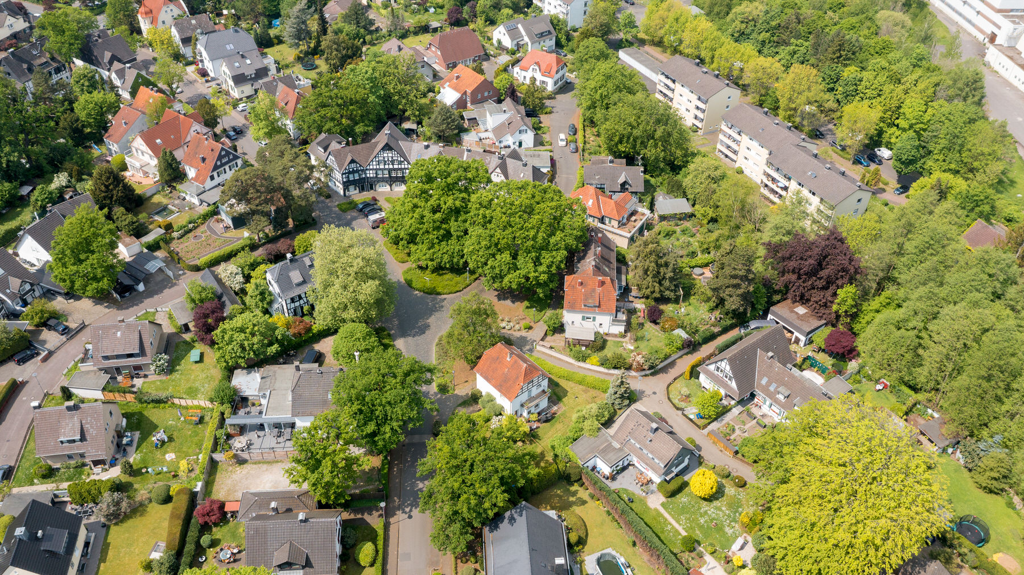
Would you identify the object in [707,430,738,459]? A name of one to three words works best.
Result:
shed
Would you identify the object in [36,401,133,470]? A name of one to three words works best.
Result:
house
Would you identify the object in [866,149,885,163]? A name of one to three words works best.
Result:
car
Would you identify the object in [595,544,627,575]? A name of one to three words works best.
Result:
swimming pool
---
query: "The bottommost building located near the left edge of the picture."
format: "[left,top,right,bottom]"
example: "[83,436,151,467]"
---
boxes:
[0,491,89,575]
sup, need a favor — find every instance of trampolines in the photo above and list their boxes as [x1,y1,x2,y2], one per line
[300,57,316,70]
[833,357,846,372]
[954,510,998,546]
